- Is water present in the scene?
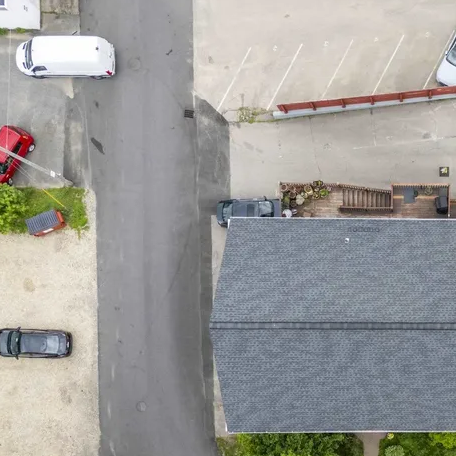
No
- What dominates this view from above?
paved ground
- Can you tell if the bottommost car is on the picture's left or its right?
left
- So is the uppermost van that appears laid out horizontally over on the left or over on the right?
left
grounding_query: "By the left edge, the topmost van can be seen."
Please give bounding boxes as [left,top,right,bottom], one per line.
[17,36,117,81]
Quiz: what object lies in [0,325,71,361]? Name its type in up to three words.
car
